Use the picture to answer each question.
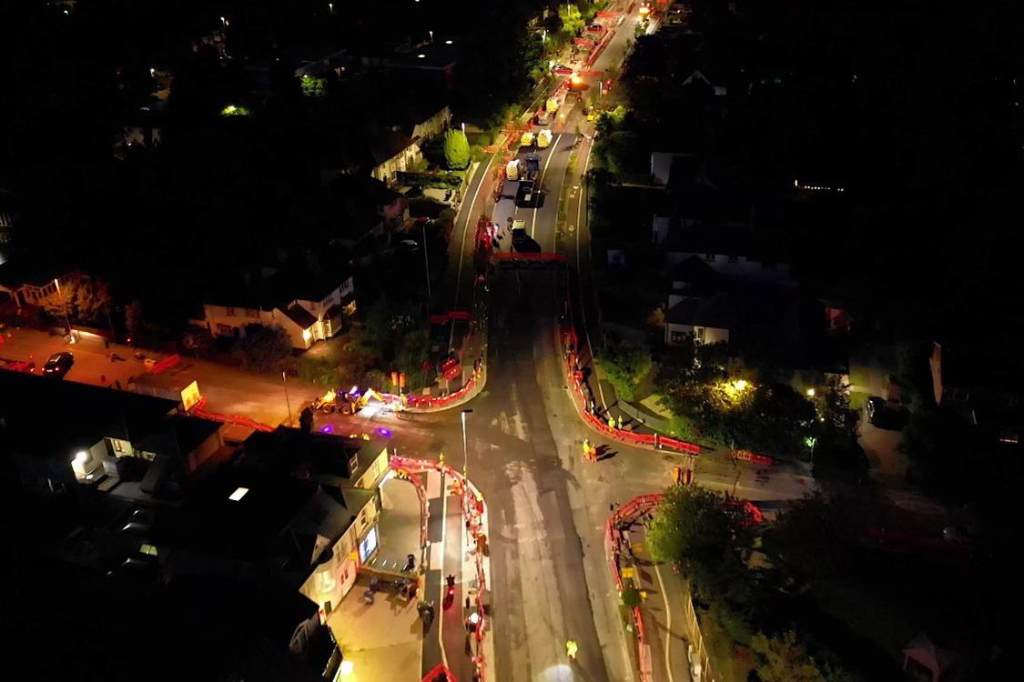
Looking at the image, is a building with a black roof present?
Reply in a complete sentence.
Yes, there's a building with a black roof down there.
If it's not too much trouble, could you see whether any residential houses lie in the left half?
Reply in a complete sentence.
Yes, a residential house shows up in the left half.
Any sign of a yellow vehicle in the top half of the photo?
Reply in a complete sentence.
Yes, the scene does show a yellow vehicle in the top half of the photo.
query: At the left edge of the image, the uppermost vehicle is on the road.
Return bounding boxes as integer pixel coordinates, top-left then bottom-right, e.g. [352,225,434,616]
[41,347,79,371]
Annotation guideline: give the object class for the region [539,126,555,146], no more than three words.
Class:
vehicle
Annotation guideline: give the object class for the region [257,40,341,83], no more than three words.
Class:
house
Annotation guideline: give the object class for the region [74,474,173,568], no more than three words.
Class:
house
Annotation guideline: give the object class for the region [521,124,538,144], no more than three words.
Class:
vehicle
